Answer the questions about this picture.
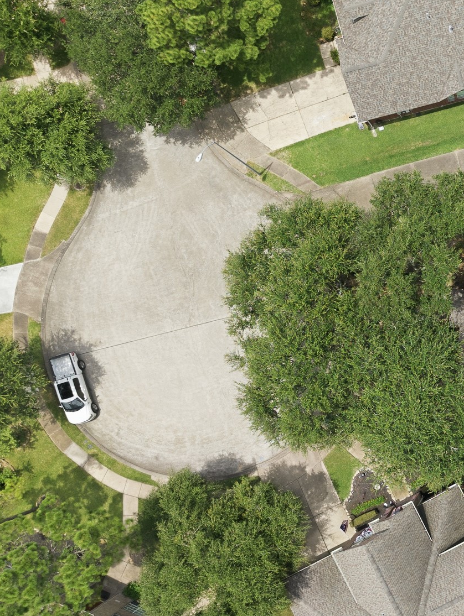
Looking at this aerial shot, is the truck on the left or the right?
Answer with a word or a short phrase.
left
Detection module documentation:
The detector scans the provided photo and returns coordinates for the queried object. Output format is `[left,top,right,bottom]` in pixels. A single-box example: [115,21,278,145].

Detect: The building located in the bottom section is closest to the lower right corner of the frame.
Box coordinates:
[283,481,464,616]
